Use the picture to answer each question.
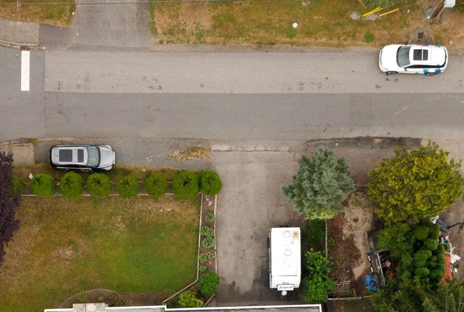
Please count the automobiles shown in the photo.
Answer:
2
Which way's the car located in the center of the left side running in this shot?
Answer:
from side to side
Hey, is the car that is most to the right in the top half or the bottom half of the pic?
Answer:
top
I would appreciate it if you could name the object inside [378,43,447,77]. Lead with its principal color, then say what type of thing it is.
white car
